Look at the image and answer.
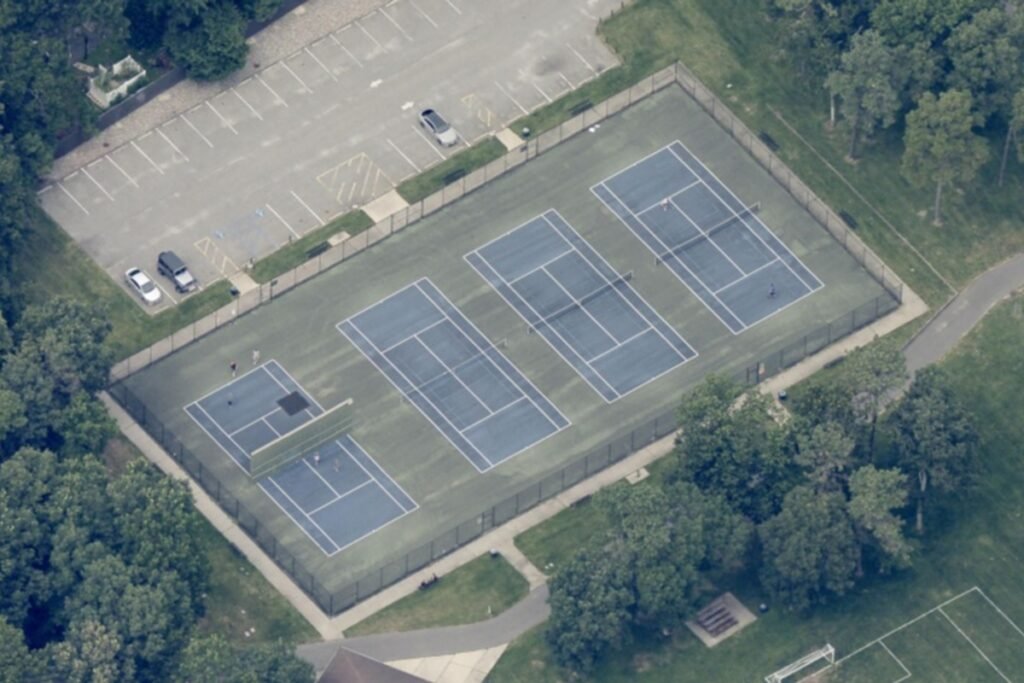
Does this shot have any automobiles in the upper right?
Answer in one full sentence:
No, no automobile can be made out in the upper right.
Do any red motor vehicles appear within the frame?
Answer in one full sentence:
No, there is no red motor vehicle in the image.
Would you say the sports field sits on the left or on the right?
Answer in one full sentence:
It is on the right.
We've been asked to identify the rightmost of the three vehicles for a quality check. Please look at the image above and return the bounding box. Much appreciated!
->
[419,106,458,145]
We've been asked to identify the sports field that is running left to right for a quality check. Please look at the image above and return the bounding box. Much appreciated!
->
[803,584,1024,683]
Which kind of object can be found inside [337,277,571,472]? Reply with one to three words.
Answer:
tennis court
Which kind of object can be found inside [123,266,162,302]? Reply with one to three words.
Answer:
car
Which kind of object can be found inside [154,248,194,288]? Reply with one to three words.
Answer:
car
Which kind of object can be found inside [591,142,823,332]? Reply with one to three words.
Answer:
tennis court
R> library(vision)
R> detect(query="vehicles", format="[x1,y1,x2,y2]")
[123,266,162,302]
[419,106,458,145]
[154,248,194,288]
